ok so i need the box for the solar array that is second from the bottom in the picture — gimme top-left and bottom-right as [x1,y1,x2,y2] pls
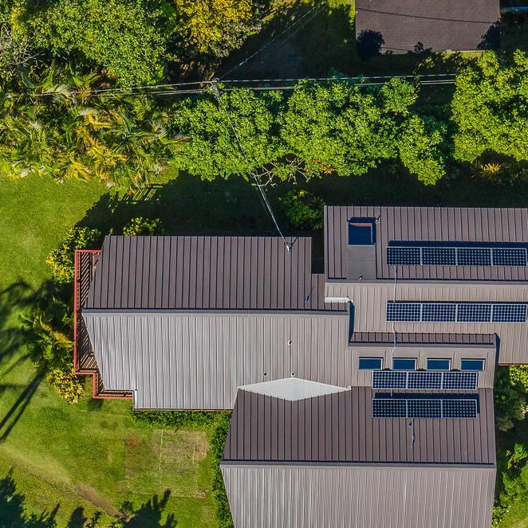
[371,371,477,390]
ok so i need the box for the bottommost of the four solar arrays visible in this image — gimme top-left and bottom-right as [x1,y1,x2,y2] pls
[373,398,477,418]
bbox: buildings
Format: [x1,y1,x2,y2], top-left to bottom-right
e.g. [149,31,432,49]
[81,206,528,528]
[354,0,503,56]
